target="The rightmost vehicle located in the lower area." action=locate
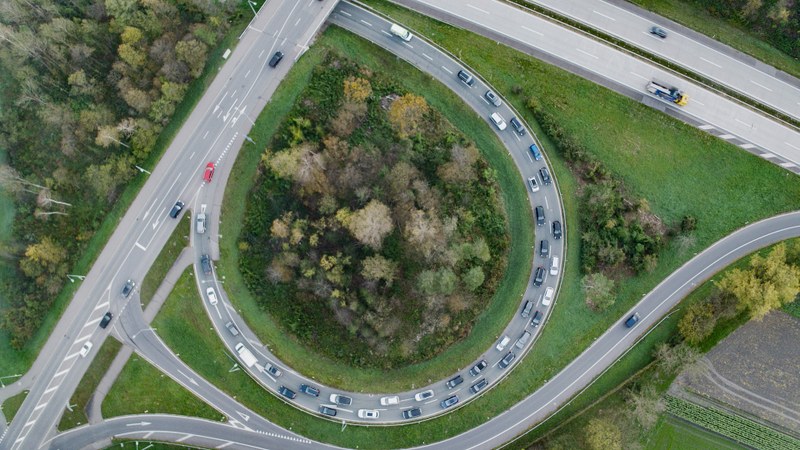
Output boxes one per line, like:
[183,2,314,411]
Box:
[623,311,640,328]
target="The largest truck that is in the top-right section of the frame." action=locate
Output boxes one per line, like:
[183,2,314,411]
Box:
[644,80,691,107]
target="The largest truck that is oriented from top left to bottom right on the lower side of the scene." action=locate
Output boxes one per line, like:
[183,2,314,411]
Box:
[234,342,259,371]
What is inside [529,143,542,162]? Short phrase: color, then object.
blue vehicle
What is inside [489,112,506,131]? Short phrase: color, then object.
white car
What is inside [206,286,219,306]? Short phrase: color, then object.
white vehicle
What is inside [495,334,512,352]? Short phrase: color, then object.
white car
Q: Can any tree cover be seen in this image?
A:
Yes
